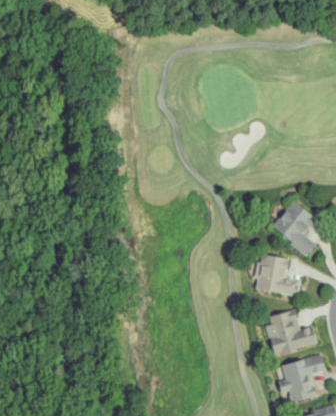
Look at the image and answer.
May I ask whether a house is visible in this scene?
Yes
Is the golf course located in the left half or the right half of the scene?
right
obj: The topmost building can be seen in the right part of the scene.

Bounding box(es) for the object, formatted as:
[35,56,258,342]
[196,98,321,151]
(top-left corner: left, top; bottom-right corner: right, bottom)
[275,202,318,256]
